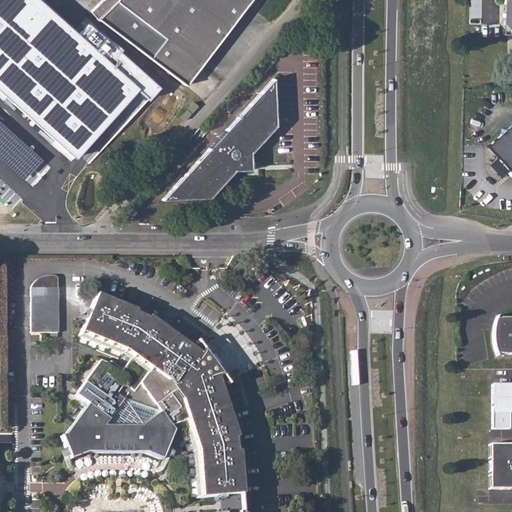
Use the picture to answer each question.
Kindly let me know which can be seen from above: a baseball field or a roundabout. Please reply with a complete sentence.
The one in the frame is a roundabout.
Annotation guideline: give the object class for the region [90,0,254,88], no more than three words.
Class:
building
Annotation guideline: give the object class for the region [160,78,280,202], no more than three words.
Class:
building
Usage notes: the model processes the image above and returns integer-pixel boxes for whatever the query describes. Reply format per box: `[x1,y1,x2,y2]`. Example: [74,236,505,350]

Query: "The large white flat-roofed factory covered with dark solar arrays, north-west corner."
[0,0,160,164]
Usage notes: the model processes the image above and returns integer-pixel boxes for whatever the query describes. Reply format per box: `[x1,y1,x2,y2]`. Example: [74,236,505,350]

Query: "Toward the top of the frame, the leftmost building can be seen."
[0,122,50,186]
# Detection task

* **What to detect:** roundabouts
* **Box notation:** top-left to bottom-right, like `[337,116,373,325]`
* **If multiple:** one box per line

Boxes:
[322,196,423,296]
